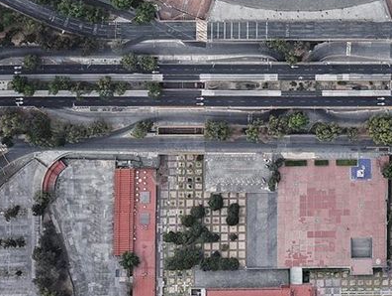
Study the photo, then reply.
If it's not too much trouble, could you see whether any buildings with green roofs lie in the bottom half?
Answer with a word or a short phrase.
No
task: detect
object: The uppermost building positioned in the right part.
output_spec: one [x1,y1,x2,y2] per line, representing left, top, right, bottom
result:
[204,150,270,192]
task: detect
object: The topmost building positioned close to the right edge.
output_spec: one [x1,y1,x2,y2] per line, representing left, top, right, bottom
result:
[277,151,387,274]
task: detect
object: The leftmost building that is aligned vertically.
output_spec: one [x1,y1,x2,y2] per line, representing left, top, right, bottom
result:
[112,167,135,254]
